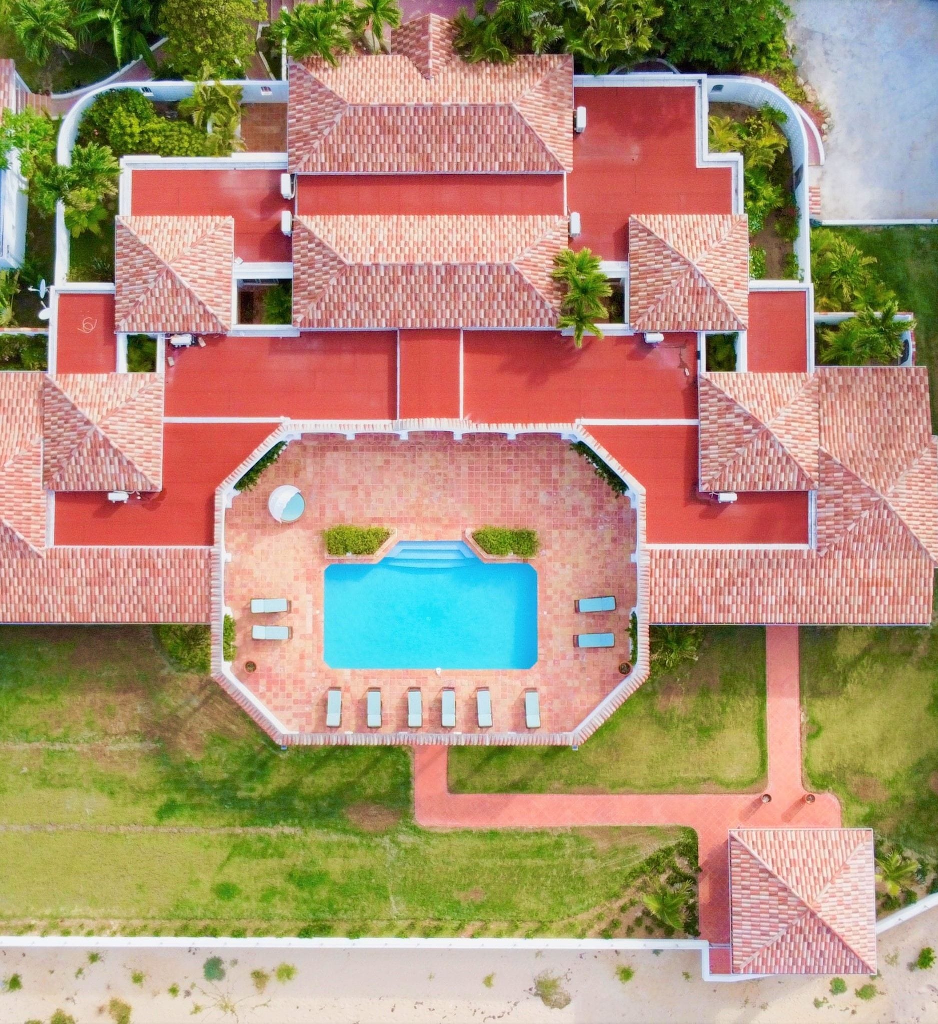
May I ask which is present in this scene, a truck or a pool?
pool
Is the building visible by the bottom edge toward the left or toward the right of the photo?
right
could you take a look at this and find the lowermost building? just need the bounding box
[727,827,879,976]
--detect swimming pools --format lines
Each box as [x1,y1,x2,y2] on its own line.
[323,540,538,670]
